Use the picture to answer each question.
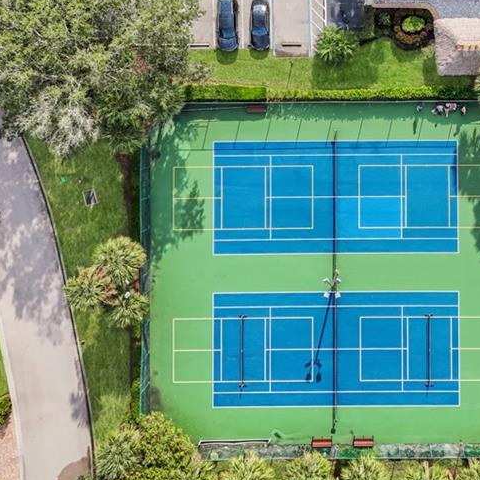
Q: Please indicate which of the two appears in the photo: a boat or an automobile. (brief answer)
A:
automobile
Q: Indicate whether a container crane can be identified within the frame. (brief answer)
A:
No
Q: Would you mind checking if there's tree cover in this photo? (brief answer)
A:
Yes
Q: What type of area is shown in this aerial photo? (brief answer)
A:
sports ground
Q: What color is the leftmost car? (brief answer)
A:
blue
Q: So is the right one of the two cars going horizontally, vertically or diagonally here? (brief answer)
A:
vertically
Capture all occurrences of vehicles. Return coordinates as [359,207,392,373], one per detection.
[215,0,239,52]
[249,1,272,51]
